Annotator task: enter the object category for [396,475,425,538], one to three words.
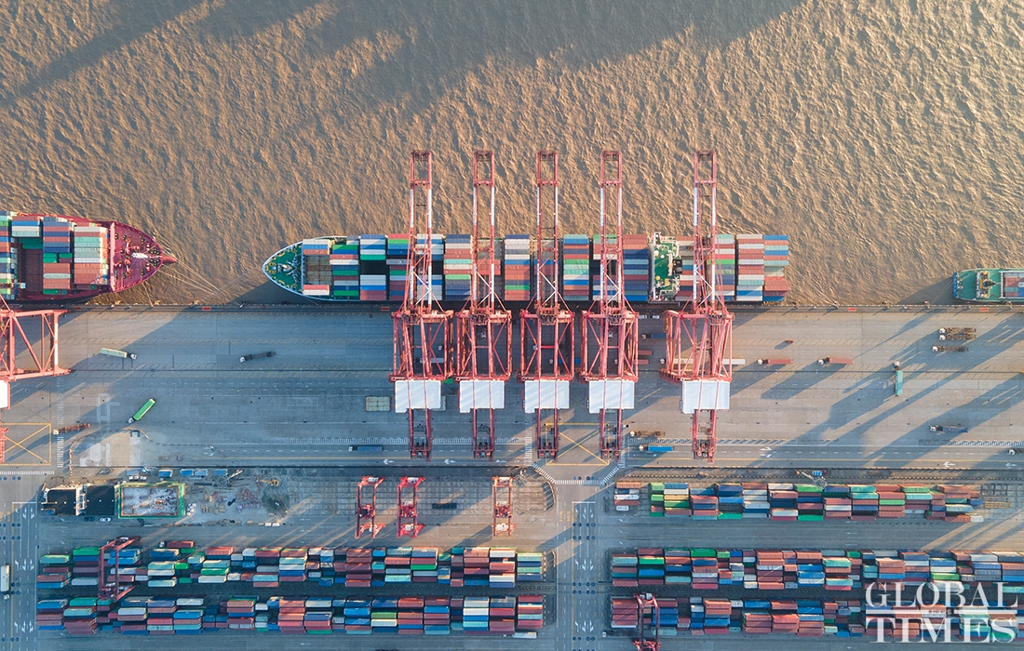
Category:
container crane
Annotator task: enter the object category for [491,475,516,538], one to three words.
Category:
container crane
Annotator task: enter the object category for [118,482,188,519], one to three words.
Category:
building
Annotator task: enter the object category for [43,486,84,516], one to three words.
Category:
building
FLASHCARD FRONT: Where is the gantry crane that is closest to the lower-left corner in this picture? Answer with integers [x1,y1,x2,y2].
[99,536,143,602]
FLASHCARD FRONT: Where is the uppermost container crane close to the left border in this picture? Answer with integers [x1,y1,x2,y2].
[0,289,74,459]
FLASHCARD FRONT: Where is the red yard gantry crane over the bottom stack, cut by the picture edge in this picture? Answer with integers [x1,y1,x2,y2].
[630,592,661,651]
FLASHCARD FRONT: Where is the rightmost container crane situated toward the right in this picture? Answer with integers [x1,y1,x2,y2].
[657,150,734,459]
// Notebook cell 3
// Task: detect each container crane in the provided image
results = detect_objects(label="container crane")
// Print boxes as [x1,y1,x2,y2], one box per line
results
[355,475,386,538]
[99,536,143,602]
[630,592,661,651]
[657,150,734,459]
[491,475,516,538]
[515,150,576,459]
[396,475,425,538]
[390,150,458,459]
[454,150,515,459]
[572,150,640,459]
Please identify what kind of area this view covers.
port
